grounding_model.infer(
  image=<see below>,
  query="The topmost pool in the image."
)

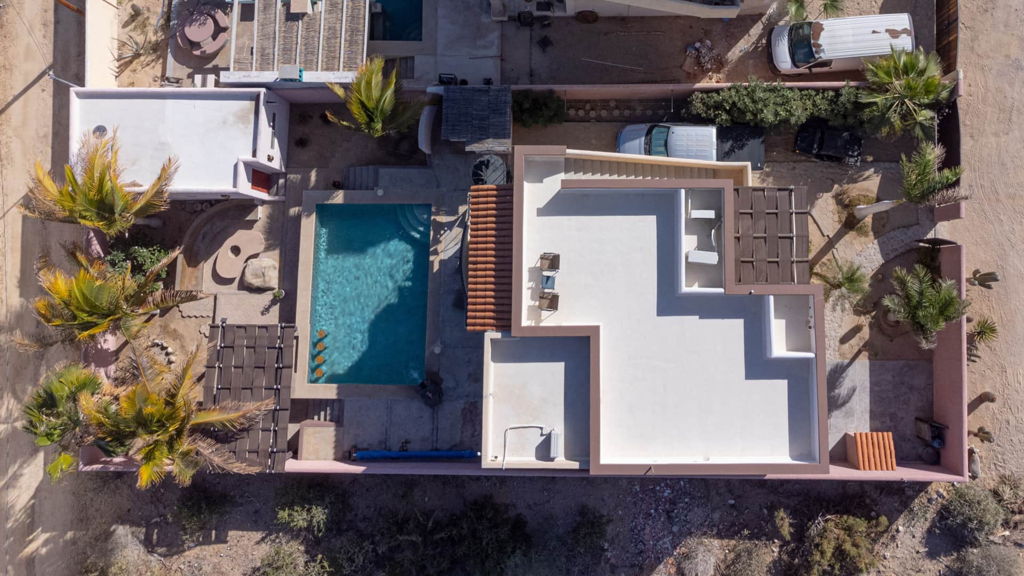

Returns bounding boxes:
[369,0,422,41]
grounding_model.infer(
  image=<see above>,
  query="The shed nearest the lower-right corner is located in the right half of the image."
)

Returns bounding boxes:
[846,429,898,471]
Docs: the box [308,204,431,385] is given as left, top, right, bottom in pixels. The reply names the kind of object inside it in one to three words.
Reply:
swimming pool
